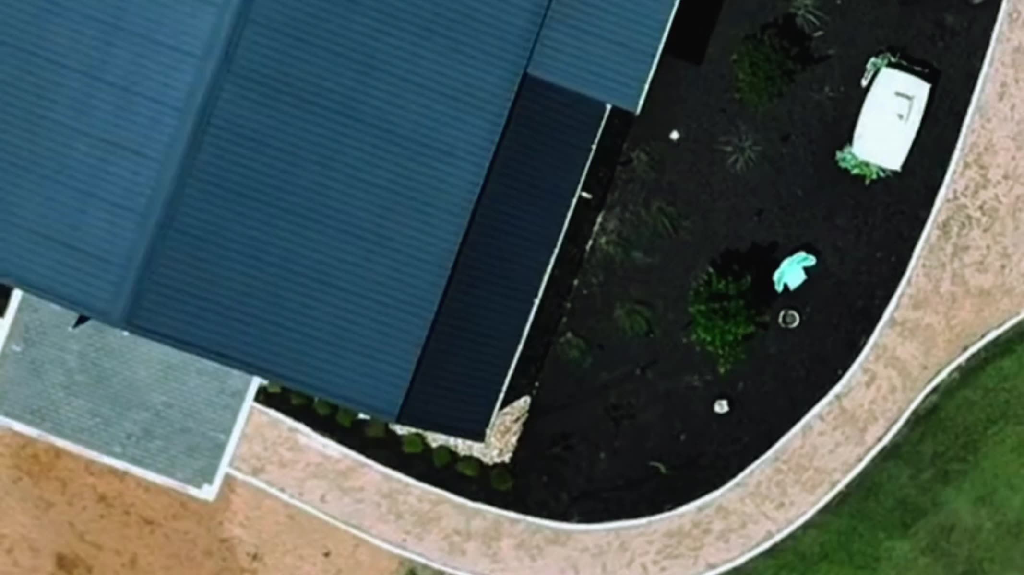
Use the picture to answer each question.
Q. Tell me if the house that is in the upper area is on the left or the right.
left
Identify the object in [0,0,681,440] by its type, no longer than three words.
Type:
house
